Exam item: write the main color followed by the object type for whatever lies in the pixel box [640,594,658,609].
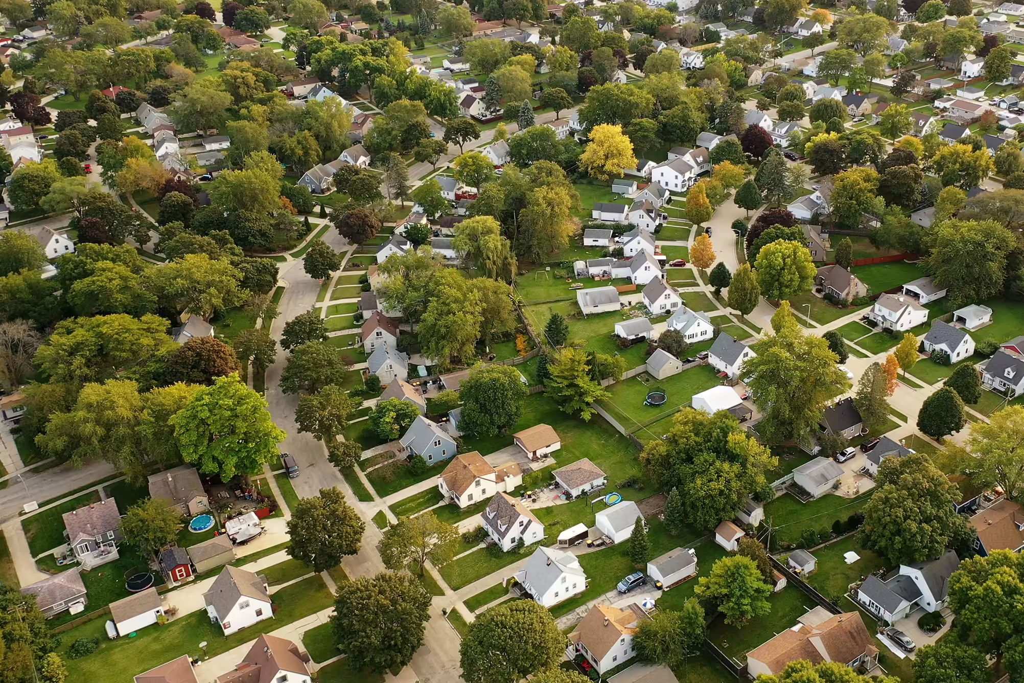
white umbrella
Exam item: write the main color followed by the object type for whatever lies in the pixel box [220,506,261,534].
white camper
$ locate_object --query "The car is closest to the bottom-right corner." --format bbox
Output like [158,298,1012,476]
[884,628,918,653]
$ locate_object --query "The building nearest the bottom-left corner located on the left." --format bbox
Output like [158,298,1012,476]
[33,557,88,614]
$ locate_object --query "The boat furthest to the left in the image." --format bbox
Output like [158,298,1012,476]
[102,613,117,641]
